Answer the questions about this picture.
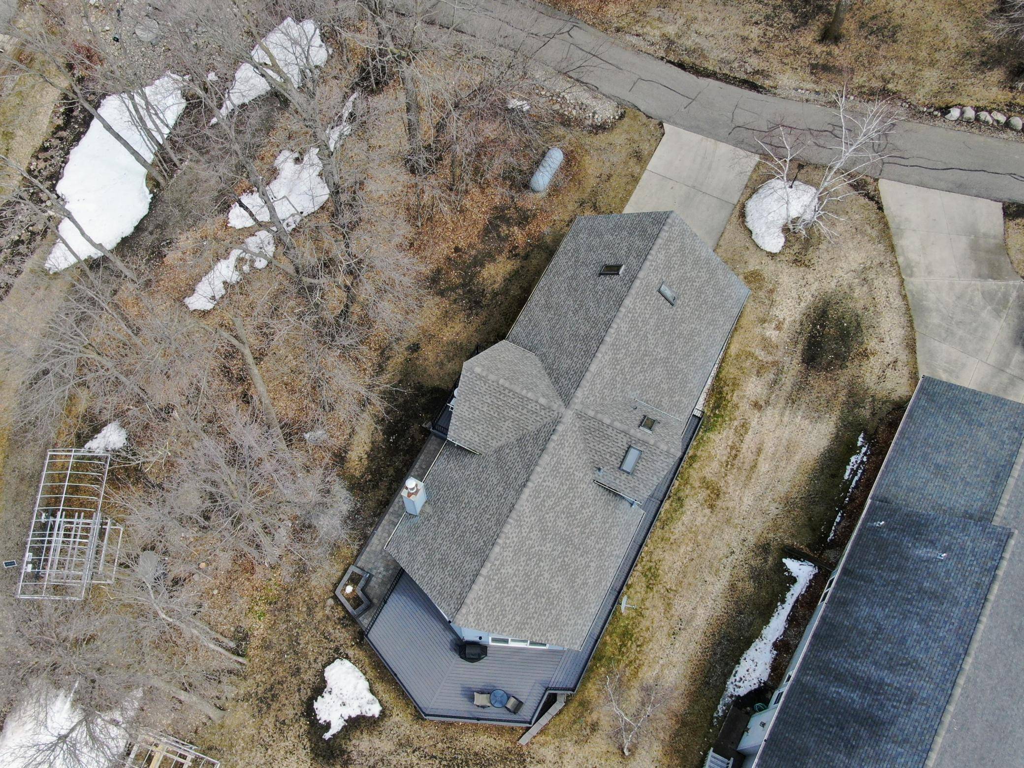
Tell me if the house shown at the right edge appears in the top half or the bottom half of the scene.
bottom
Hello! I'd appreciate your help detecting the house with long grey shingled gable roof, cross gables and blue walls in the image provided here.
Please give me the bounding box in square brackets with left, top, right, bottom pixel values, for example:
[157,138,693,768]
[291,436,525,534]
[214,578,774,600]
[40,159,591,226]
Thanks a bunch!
[382,211,750,652]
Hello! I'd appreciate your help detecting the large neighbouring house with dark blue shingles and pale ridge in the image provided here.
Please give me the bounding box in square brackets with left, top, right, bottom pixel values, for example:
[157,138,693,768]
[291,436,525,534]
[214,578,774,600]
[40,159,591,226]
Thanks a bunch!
[738,374,1024,768]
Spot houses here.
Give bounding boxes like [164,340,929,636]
[738,374,1024,768]
[382,211,750,652]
